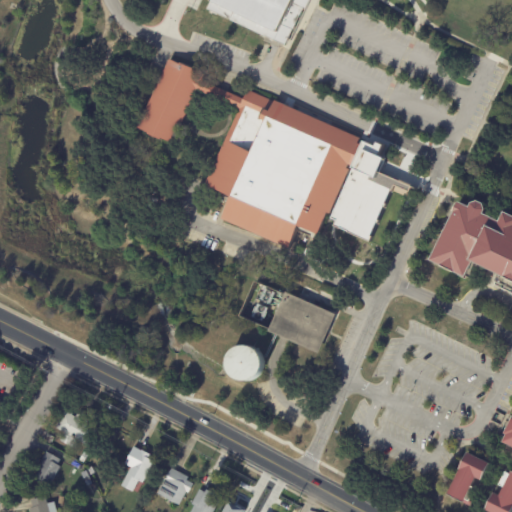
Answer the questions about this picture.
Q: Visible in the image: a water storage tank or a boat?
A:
water storage tank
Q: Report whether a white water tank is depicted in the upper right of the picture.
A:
No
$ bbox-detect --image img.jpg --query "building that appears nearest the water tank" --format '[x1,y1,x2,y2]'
[268,292,338,352]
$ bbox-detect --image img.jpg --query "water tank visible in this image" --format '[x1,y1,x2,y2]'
[224,344,264,381]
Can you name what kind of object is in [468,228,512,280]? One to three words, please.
building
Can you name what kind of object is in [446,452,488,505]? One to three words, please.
house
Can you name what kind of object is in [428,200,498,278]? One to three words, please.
building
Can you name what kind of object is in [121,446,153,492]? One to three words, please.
house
